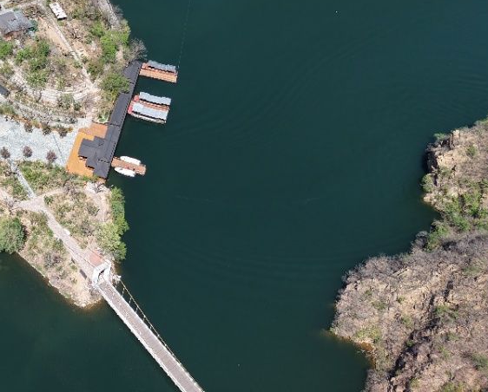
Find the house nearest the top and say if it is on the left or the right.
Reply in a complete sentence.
You can find the house nearest the top on the left side of the picture.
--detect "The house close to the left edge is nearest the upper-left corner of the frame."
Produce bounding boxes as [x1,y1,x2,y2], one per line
[0,9,34,40]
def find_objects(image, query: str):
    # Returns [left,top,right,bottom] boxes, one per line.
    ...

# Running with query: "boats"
[119,156,142,165]
[132,94,172,109]
[143,62,178,76]
[113,168,137,178]
[129,105,170,125]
